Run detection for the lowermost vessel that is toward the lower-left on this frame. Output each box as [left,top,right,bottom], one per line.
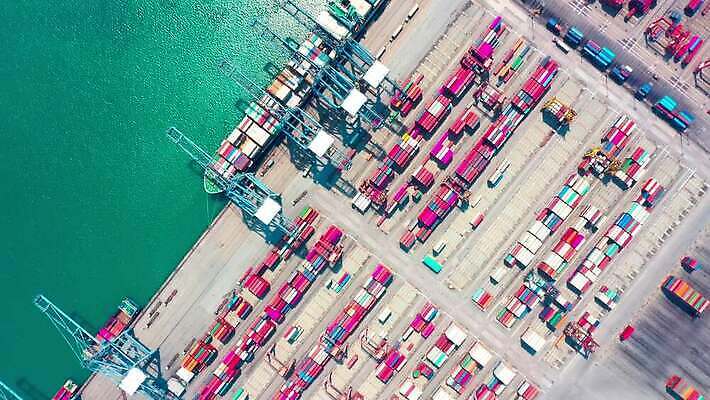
[60,371,83,400]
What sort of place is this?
port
